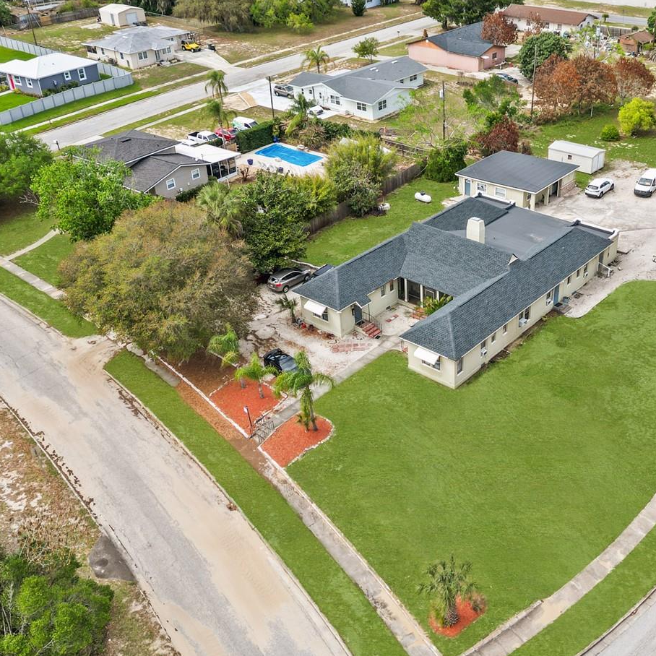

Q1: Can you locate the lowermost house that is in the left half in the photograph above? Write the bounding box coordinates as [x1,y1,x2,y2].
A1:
[68,123,253,200]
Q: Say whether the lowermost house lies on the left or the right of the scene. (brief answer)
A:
right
